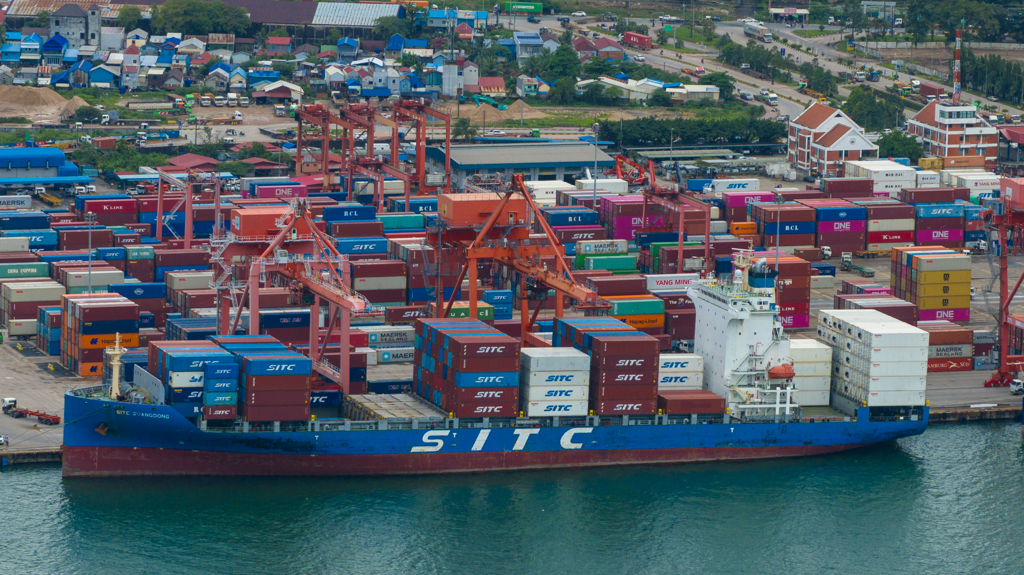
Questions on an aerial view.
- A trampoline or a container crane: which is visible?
container crane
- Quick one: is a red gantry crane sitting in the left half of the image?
Yes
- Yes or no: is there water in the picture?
Yes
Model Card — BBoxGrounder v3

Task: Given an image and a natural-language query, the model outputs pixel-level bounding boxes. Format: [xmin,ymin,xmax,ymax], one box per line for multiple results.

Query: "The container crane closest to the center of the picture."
[418,164,609,348]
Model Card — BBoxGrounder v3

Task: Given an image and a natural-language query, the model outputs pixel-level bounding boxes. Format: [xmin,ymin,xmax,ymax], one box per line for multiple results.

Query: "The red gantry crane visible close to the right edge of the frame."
[986,174,1024,386]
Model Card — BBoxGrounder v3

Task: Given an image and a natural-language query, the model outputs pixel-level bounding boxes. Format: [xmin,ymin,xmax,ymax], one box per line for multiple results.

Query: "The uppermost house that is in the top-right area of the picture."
[762,8,812,23]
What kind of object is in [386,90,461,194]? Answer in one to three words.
container crane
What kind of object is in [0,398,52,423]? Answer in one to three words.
truck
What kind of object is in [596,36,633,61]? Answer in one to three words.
house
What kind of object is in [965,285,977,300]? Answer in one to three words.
vehicle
